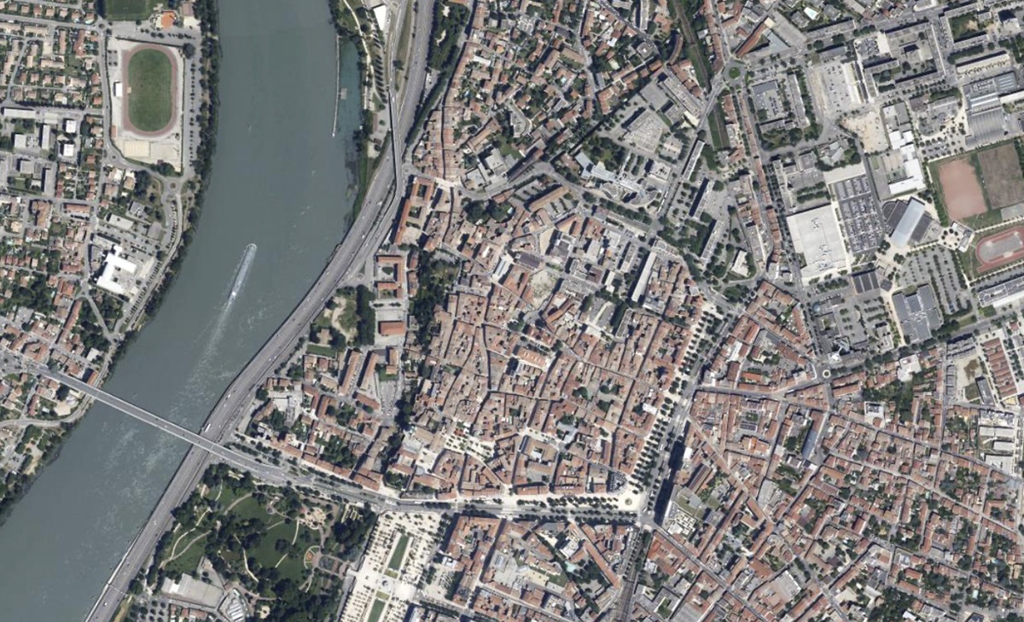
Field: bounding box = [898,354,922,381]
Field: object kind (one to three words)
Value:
building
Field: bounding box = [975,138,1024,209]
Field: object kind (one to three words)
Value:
sports field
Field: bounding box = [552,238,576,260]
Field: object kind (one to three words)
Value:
building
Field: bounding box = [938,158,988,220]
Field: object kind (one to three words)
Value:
sports field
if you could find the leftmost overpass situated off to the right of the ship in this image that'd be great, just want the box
[352,82,403,271]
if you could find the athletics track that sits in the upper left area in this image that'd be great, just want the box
[111,38,183,143]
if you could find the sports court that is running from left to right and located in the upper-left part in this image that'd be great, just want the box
[116,138,179,163]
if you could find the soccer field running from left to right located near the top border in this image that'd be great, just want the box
[105,0,151,20]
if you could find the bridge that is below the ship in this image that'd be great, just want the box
[36,363,296,482]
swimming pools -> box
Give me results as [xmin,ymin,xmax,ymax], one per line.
[804,7,818,19]
[564,562,576,572]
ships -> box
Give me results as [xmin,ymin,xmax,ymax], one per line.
[229,246,253,300]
